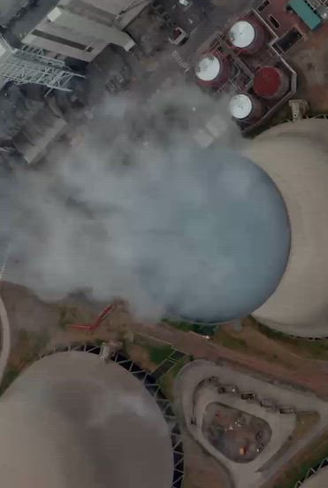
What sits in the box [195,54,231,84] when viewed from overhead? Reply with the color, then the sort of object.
white storage tank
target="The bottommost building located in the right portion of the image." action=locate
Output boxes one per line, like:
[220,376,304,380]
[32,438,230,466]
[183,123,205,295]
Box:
[287,95,304,120]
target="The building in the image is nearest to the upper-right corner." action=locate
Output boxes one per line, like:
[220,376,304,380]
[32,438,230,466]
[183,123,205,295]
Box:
[288,0,324,31]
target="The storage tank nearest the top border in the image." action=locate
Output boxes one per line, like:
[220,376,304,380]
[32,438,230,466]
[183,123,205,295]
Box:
[230,21,266,53]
